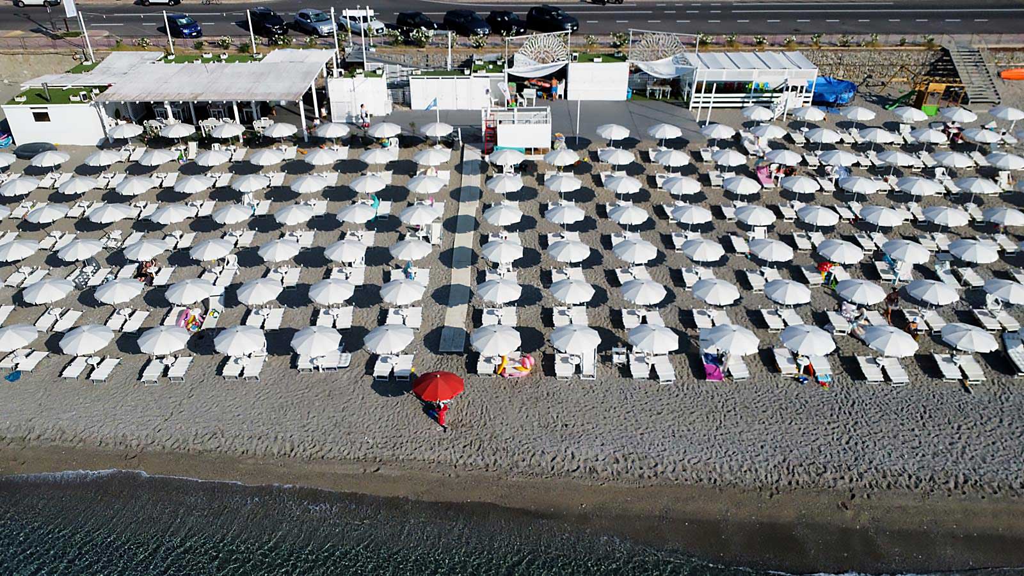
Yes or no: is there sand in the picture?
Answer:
Yes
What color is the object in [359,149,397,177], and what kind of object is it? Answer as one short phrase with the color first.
white umbrella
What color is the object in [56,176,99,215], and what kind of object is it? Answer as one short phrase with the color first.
white umbrella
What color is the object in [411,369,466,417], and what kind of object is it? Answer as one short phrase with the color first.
red umbrella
